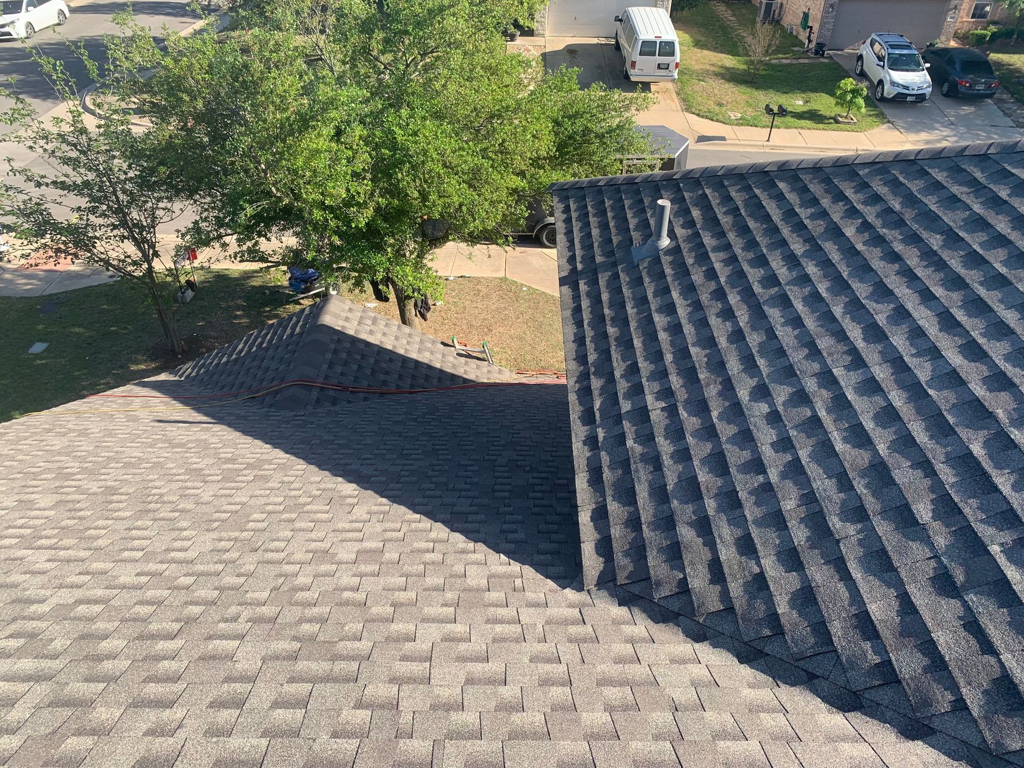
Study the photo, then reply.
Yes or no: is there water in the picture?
No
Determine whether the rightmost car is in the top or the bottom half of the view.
top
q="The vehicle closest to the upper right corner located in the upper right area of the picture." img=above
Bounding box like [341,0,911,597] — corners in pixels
[927,44,1014,98]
